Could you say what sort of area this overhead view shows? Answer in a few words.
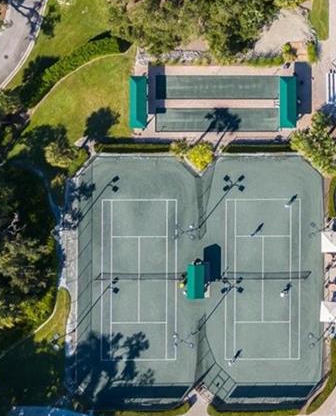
sports ground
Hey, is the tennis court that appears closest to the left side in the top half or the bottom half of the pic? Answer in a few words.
bottom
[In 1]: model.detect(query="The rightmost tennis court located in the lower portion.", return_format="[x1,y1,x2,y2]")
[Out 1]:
[199,156,323,403]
